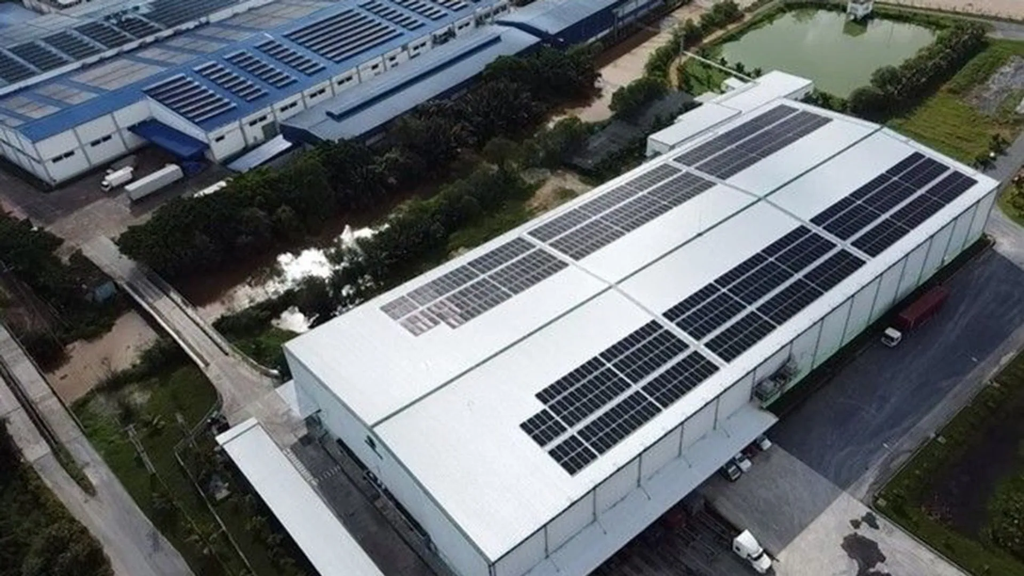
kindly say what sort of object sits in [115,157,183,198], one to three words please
trailer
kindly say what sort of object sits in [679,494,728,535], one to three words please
trailer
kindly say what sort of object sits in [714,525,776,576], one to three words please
truck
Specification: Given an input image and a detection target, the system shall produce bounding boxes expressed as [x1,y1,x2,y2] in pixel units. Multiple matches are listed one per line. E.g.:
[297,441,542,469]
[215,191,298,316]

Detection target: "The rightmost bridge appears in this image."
[90,235,279,374]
